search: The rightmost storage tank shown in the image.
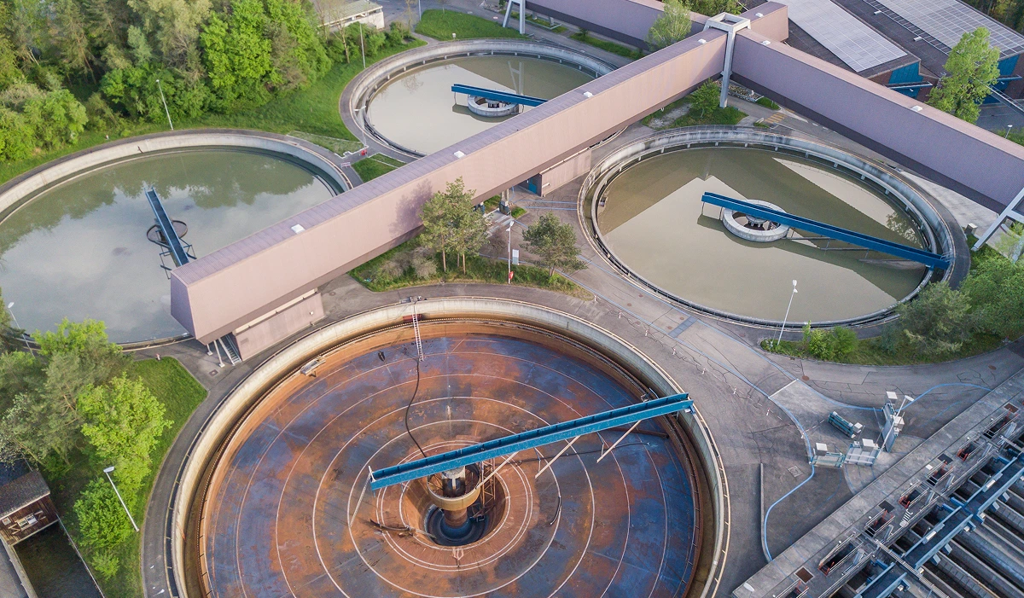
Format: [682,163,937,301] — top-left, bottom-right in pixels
[576,132,952,341]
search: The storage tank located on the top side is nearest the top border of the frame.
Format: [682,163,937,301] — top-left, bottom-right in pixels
[352,42,652,164]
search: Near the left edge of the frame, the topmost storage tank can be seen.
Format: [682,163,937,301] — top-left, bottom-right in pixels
[0,131,352,225]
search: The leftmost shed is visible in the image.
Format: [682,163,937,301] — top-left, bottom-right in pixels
[0,473,62,557]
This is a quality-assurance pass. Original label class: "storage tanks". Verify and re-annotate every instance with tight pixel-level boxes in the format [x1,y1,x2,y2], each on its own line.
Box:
[0,131,352,225]
[170,302,728,598]
[576,132,952,341]
[352,42,652,164]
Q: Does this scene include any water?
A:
Yes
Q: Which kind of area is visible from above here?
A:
industrial area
